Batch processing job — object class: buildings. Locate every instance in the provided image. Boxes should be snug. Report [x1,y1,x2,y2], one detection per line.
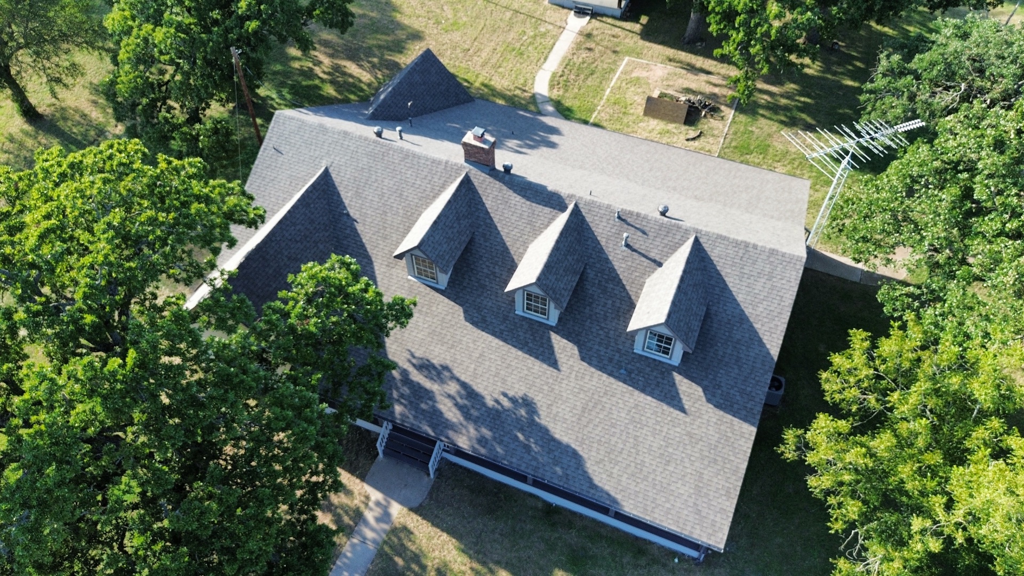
[170,49,811,569]
[546,0,631,17]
